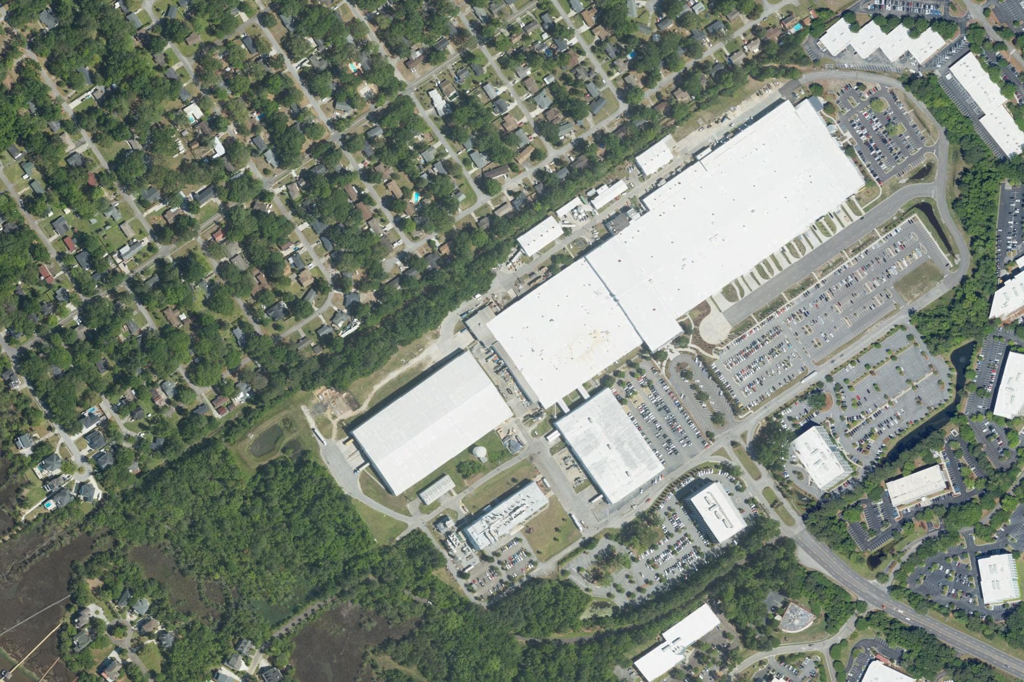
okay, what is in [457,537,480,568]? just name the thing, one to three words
house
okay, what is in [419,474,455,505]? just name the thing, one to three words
shed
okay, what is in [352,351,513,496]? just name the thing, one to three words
warehouse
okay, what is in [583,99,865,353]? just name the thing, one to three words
building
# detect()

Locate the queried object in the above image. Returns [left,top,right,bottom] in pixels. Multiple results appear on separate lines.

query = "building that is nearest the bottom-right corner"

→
[975,552,1024,605]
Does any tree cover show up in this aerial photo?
Yes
